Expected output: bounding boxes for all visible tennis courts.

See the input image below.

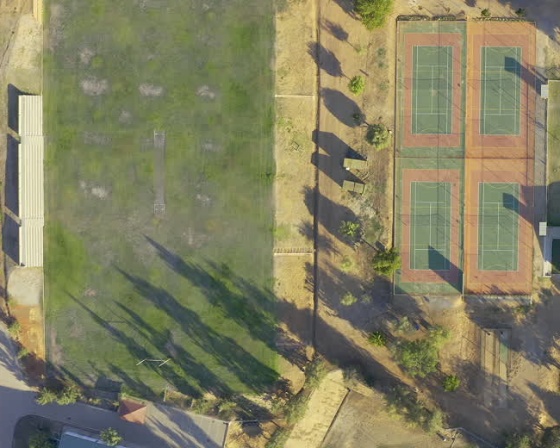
[395,158,465,295]
[465,158,534,295]
[397,22,466,158]
[466,22,536,158]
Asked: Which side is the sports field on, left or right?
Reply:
left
